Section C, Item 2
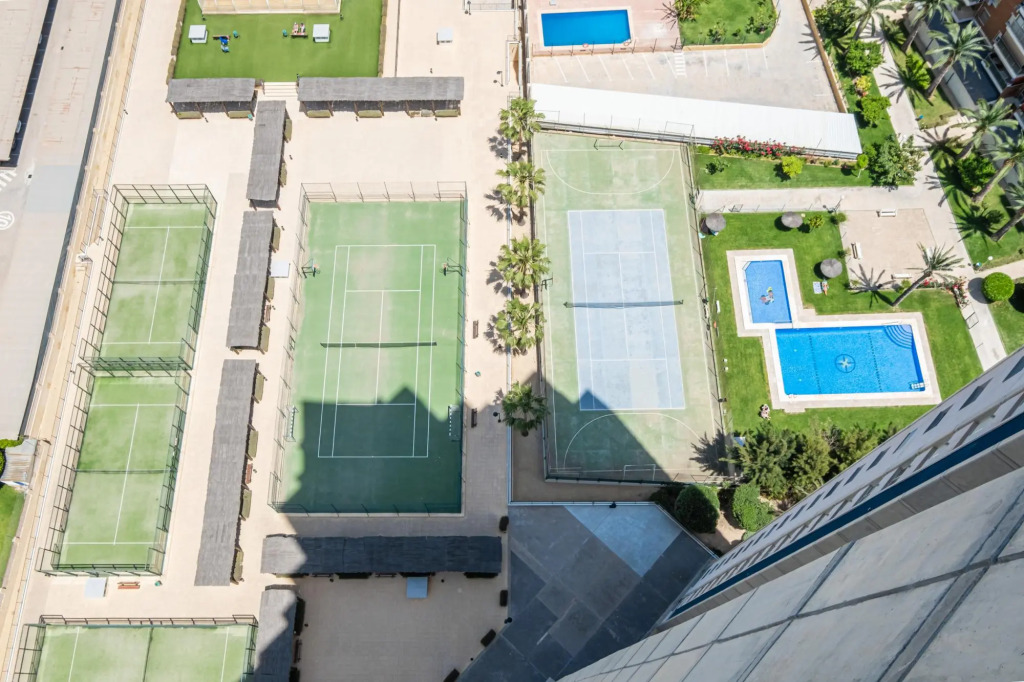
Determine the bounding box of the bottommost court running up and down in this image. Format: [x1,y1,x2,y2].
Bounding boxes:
[56,376,193,577]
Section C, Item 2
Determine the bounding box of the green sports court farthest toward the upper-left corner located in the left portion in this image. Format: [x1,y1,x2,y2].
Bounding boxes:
[93,201,217,372]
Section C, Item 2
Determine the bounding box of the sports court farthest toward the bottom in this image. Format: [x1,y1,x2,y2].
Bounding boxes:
[32,625,260,682]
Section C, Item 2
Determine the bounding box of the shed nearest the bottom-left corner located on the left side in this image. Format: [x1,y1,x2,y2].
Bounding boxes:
[2,441,47,484]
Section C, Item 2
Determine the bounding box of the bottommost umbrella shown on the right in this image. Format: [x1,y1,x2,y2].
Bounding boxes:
[821,257,845,278]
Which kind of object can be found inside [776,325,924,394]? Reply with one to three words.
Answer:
swimming pool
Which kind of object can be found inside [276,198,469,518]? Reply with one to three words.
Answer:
tennis court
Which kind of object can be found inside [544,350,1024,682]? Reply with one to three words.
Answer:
building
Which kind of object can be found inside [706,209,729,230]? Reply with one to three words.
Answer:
umbrella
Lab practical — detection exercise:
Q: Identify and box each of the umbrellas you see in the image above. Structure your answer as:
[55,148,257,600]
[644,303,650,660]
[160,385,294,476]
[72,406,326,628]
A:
[782,207,804,227]
[706,209,729,230]
[821,257,845,278]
